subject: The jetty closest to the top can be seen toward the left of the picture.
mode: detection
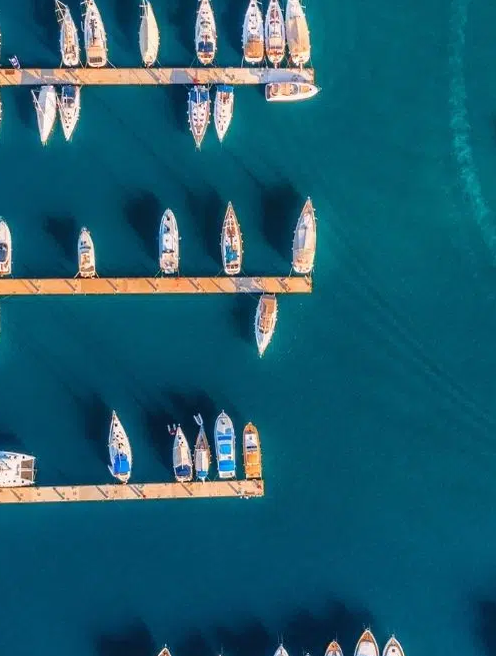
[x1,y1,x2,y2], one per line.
[0,67,314,86]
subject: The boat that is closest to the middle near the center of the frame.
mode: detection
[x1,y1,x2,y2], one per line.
[253,286,281,357]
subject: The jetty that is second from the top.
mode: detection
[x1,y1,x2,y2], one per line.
[0,276,311,296]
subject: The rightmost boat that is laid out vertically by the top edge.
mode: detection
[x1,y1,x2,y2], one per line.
[285,0,313,74]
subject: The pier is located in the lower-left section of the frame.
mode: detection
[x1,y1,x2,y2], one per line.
[0,480,265,505]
